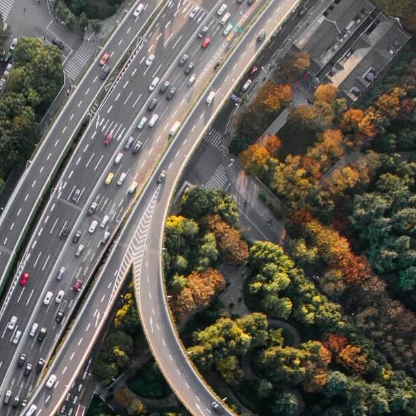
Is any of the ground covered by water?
No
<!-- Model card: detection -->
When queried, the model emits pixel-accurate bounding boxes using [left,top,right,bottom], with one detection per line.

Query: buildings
[290,0,375,73]
[321,11,412,101]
